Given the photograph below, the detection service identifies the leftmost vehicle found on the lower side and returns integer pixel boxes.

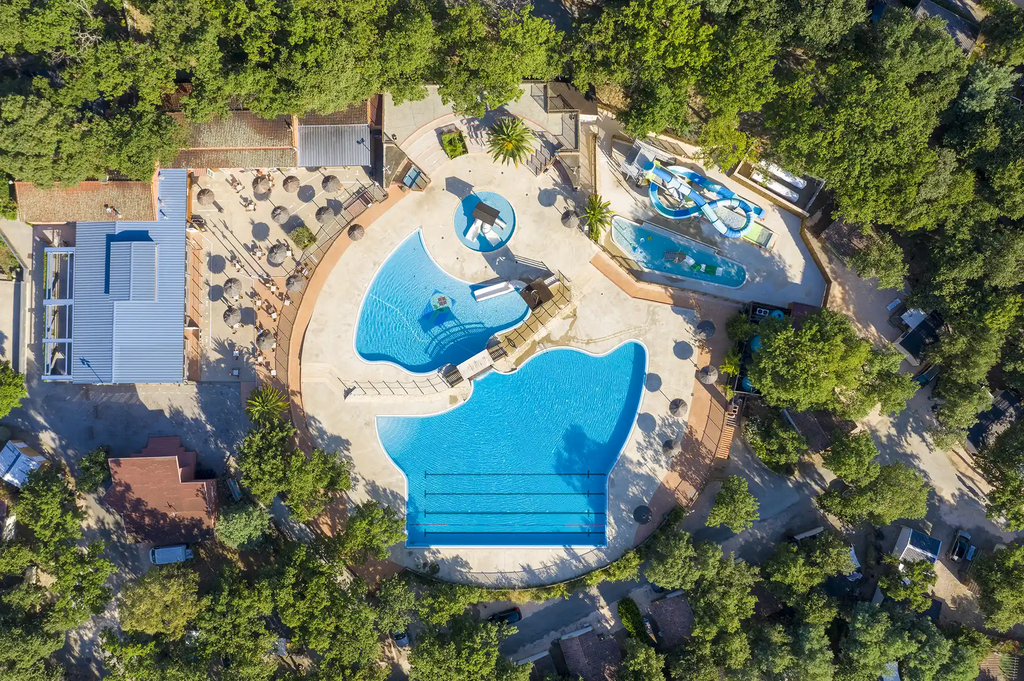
[149,545,192,566]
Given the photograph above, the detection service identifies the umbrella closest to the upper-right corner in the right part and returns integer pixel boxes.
[696,319,715,339]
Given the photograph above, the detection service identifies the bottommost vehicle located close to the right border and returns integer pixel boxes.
[946,528,973,565]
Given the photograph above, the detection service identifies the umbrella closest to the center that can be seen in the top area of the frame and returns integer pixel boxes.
[559,210,579,228]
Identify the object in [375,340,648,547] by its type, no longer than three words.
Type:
swimming pool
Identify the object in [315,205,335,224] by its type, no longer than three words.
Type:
umbrella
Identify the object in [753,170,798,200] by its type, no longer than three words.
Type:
storage tank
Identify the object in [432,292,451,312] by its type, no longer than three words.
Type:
fountain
